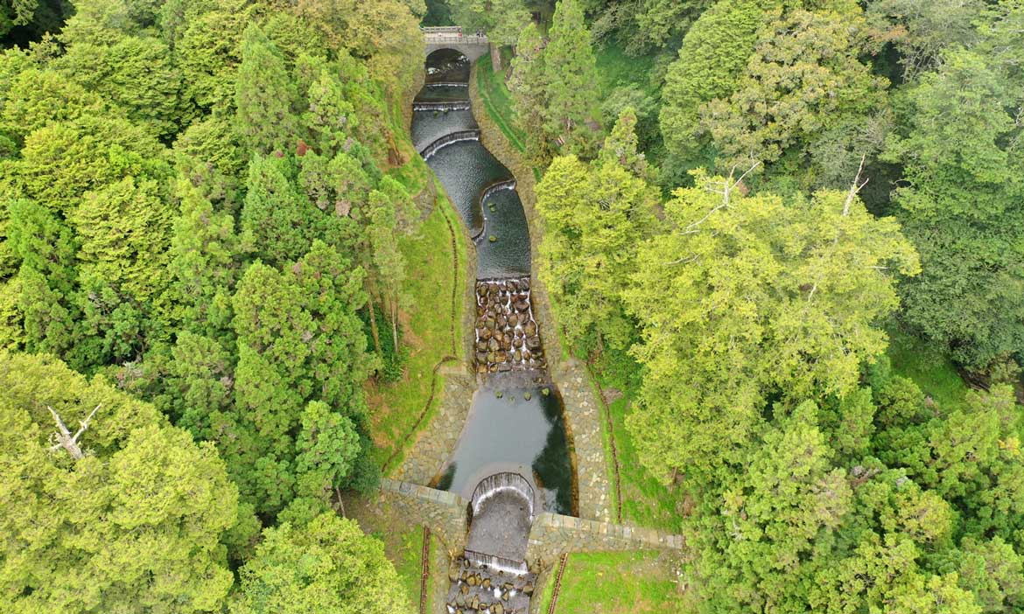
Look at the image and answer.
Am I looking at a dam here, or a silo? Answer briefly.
dam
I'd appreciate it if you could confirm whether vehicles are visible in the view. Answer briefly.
No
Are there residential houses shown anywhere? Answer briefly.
No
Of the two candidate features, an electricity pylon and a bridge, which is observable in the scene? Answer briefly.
bridge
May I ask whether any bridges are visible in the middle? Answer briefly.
No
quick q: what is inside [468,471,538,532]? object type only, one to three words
dam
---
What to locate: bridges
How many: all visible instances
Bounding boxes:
[365,29,492,78]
